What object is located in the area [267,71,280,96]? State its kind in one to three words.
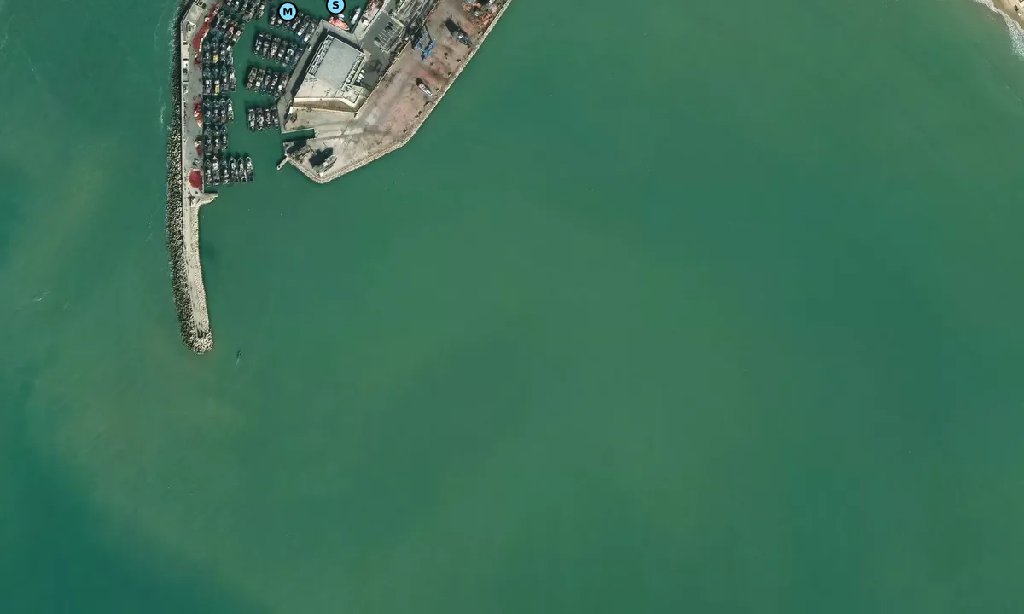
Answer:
boat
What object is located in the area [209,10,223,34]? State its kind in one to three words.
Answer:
boat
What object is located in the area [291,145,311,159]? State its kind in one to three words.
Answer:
vessel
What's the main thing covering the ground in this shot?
water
